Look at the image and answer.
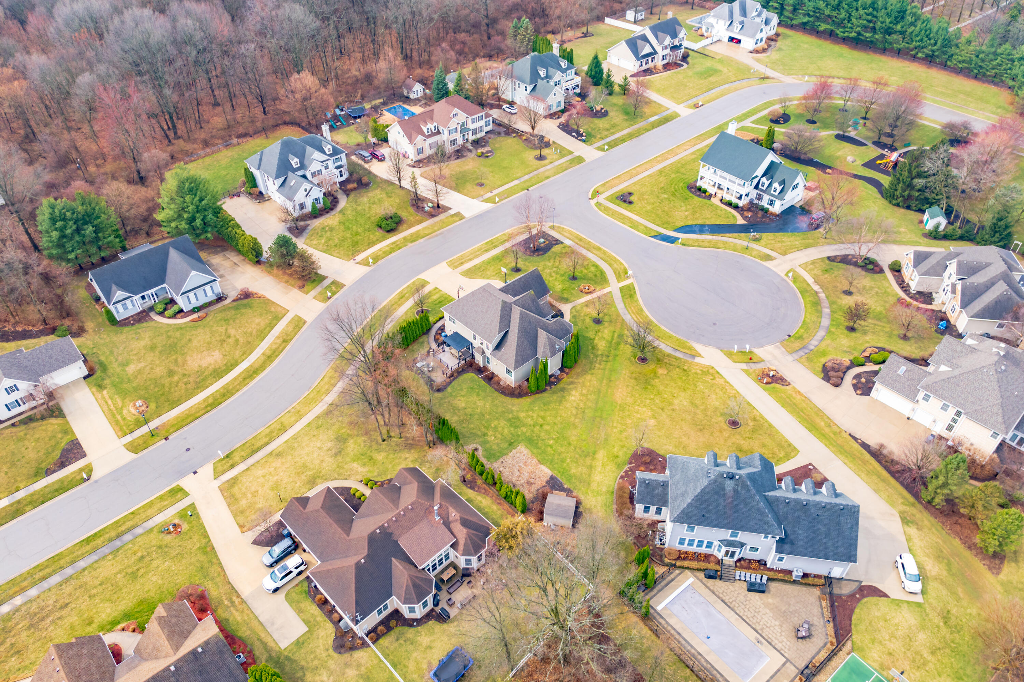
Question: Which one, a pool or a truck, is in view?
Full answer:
This aerial view contains a pool.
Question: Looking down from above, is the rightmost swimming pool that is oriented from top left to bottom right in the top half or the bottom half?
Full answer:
You can find the rightmost swimming pool that is oriented from top left to bottom right in the bottom half.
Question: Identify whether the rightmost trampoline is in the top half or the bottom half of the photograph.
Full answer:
You can find the rightmost trampoline in the bottom half.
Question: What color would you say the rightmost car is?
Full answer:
The rightmost car is white.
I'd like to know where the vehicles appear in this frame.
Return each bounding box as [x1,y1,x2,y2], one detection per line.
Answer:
[354,150,374,162]
[501,104,519,114]
[370,150,386,161]
[263,555,308,594]
[731,37,740,44]
[895,553,922,594]
[260,535,301,571]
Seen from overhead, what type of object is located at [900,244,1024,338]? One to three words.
house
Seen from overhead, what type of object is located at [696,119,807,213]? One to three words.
house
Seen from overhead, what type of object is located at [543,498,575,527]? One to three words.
shed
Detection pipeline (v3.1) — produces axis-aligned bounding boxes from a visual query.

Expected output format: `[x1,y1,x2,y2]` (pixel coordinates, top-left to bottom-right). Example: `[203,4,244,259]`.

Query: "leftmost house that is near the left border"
[0,332,89,421]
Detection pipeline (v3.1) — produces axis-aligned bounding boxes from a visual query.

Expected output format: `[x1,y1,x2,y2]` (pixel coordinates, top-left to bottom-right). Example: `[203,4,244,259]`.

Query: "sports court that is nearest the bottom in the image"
[828,654,888,682]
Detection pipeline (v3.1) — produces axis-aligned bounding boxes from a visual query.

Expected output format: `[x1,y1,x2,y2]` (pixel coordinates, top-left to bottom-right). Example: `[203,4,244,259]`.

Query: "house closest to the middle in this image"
[431,267,581,382]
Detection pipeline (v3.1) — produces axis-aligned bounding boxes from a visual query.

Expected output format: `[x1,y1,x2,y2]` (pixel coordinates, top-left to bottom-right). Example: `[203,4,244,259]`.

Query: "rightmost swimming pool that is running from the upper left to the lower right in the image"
[657,578,770,680]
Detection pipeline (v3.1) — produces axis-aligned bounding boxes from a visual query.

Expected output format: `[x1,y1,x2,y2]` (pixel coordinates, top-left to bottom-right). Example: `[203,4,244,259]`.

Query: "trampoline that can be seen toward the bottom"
[430,647,473,682]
